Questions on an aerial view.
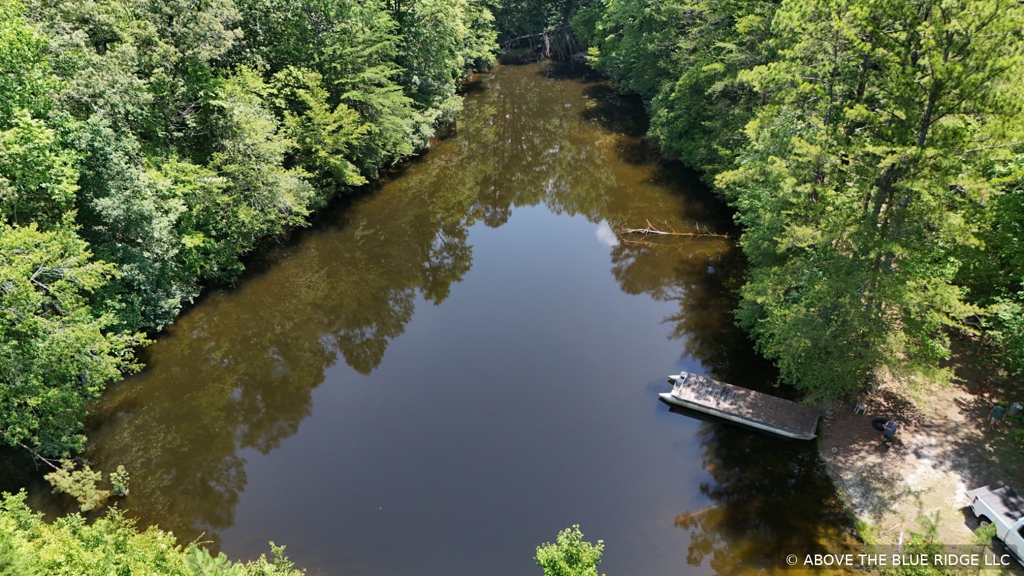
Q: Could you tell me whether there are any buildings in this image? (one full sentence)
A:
No, there's no building here.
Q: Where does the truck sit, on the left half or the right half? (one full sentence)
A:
You can find the truck on the right side of the picture.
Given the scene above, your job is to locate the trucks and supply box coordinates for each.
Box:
[966,483,1024,561]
